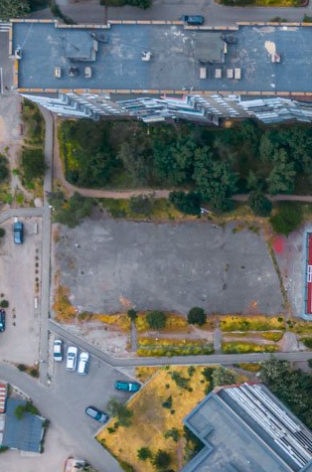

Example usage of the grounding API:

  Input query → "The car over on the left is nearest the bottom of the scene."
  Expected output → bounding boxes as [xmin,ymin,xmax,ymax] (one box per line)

[86,407,107,422]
